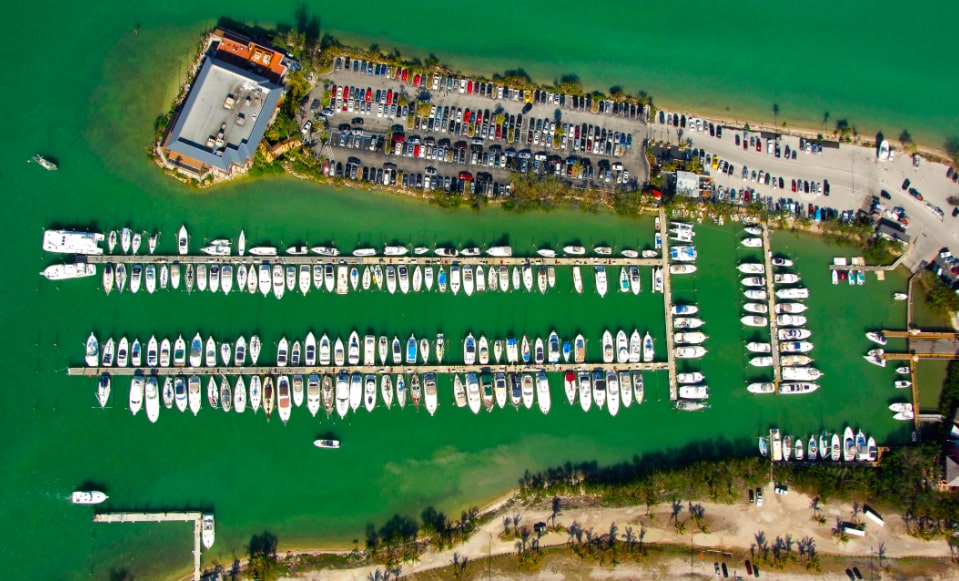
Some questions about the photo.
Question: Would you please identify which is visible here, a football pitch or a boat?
boat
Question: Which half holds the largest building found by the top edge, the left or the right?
left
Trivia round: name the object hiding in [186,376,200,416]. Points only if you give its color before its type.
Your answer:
white boat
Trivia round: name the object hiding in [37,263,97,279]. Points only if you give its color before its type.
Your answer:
white boat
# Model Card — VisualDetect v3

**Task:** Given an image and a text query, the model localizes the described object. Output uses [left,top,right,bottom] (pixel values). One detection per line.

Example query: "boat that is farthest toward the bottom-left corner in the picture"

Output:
[71,492,107,505]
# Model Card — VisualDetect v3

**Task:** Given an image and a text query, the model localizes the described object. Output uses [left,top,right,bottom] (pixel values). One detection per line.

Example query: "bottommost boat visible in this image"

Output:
[199,513,214,549]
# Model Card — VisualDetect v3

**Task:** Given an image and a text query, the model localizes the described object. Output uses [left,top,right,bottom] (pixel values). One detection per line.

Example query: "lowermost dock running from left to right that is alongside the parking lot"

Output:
[67,363,668,376]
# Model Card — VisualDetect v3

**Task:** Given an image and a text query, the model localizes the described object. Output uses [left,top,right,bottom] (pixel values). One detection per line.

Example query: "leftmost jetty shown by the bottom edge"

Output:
[94,510,203,581]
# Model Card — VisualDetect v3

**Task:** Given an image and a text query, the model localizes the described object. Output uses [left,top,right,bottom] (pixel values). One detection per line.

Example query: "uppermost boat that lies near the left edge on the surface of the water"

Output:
[33,154,58,171]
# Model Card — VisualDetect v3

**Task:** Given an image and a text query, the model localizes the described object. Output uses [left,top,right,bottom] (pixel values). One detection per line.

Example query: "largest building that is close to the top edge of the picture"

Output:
[158,28,288,182]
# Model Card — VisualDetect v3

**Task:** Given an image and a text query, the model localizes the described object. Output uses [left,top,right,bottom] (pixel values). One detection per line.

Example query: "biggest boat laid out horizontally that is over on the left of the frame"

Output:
[41,229,105,257]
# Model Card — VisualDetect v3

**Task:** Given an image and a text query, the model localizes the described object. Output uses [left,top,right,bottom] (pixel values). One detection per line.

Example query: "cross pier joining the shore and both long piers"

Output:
[658,206,677,400]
